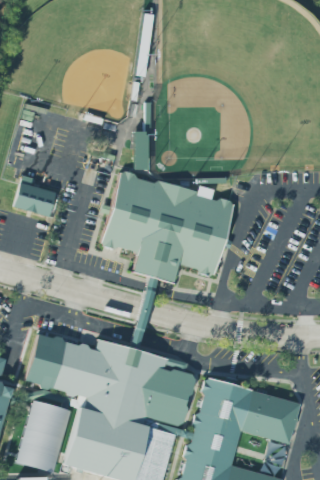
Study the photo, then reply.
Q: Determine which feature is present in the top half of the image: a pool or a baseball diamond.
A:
baseball diamond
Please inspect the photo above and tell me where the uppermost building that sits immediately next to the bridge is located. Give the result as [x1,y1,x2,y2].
[100,170,234,285]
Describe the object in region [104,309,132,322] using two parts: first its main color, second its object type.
white vehicle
